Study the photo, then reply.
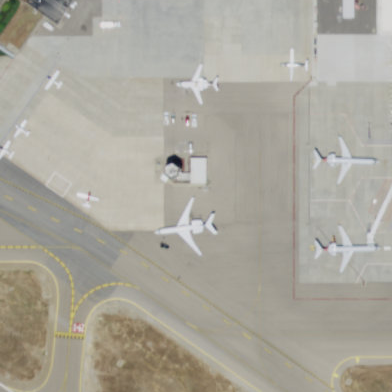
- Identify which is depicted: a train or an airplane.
airplane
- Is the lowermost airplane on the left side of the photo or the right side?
right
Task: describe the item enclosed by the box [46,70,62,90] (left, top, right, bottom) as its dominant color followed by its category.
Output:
white airplane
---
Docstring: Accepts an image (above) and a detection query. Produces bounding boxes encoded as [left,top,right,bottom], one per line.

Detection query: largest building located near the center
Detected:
[176,156,208,184]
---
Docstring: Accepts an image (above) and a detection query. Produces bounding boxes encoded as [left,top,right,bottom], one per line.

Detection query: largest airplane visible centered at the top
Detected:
[176,64,219,104]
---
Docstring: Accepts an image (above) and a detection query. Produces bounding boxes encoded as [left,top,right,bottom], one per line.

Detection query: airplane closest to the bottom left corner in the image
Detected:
[77,190,100,204]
